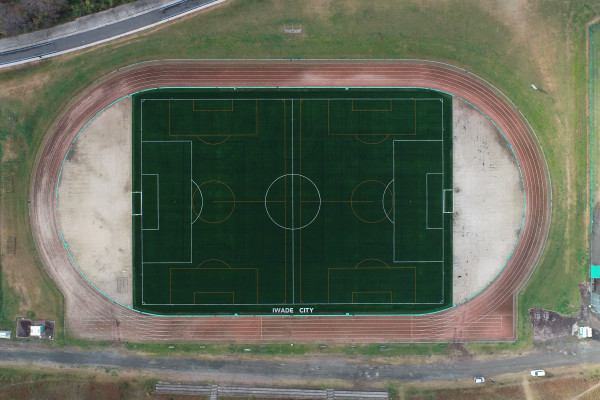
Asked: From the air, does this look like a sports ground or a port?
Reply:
sports ground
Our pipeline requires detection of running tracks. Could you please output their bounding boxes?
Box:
[29,60,553,343]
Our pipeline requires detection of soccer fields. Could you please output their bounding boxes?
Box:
[132,88,452,314]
